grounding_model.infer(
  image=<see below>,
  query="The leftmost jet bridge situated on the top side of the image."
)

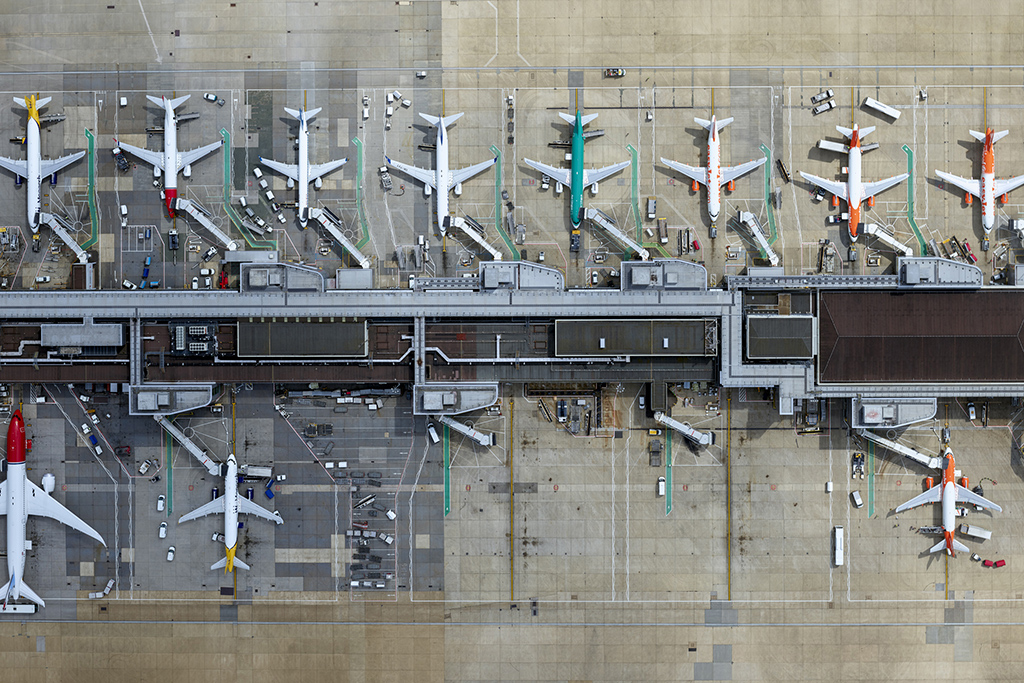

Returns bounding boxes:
[35,211,90,262]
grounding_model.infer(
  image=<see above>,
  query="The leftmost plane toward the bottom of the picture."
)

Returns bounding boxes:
[0,409,107,609]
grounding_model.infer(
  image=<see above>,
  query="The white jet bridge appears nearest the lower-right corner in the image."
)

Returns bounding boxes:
[854,428,947,471]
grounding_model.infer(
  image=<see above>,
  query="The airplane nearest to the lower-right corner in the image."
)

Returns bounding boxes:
[895,447,1005,555]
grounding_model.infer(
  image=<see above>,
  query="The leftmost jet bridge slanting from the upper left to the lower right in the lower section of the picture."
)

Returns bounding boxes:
[154,414,227,476]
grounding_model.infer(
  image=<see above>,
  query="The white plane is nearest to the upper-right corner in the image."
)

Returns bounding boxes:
[934,126,1024,235]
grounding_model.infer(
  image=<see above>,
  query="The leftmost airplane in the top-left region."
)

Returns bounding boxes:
[0,93,87,233]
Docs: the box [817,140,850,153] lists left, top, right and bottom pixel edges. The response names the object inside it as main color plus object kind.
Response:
white vehicle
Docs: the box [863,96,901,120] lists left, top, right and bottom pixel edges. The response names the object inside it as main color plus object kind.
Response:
white bus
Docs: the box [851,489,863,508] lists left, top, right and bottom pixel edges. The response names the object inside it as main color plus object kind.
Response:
white vehicle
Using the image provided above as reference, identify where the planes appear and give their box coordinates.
[524,110,631,228]
[0,93,87,233]
[801,123,909,242]
[113,93,223,218]
[386,111,496,236]
[258,106,347,228]
[0,409,107,609]
[660,115,768,222]
[895,447,1005,555]
[177,453,284,571]
[934,126,1024,235]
